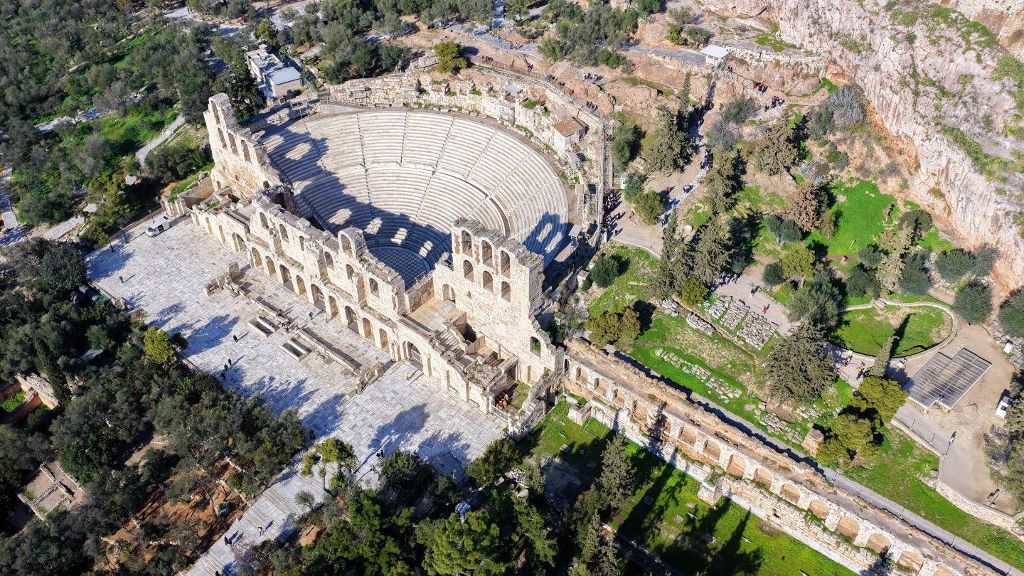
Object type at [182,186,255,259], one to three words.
building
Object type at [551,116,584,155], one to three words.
house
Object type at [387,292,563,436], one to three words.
building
